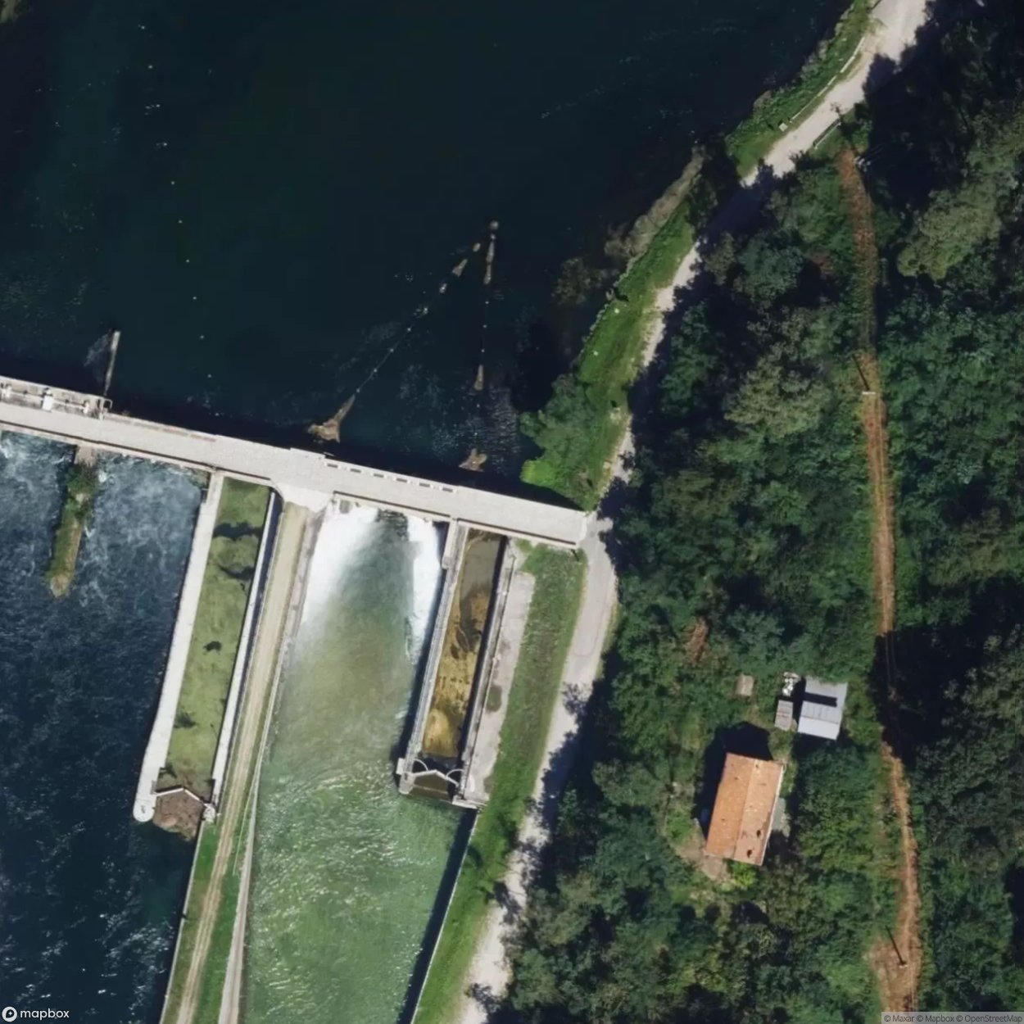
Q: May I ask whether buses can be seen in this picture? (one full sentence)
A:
No, there is no bus in the image.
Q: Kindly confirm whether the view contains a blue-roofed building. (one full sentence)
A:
No, the scene contains no blue-roofed building.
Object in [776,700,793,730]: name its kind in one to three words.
shed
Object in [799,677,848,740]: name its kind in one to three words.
shed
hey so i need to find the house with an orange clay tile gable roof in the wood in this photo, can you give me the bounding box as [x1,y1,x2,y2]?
[705,754,788,867]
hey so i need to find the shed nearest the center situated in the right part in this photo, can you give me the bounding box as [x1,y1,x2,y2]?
[737,675,754,696]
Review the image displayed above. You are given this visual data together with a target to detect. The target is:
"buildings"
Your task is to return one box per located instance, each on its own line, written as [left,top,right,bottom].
[776,700,793,730]
[799,677,848,740]
[737,675,754,696]
[705,754,788,867]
